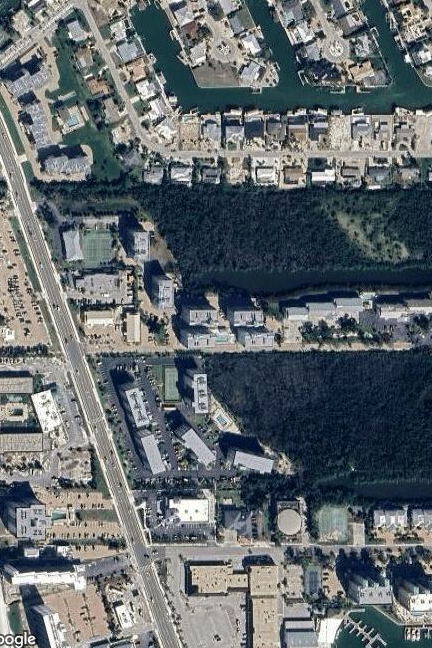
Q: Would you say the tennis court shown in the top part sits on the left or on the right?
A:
left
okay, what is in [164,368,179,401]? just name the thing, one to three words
tennis court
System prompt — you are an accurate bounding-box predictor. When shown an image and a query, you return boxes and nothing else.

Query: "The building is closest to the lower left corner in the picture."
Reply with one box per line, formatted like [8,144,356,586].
[33,604,71,648]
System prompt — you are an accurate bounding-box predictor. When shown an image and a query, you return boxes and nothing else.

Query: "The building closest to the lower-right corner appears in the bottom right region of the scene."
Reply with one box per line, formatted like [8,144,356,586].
[396,575,432,612]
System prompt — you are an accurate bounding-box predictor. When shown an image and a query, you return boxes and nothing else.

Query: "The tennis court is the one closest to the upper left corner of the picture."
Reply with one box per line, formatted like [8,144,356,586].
[83,232,112,264]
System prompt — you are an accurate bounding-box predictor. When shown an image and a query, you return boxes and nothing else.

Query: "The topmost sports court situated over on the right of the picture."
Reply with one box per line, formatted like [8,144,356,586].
[321,506,348,542]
